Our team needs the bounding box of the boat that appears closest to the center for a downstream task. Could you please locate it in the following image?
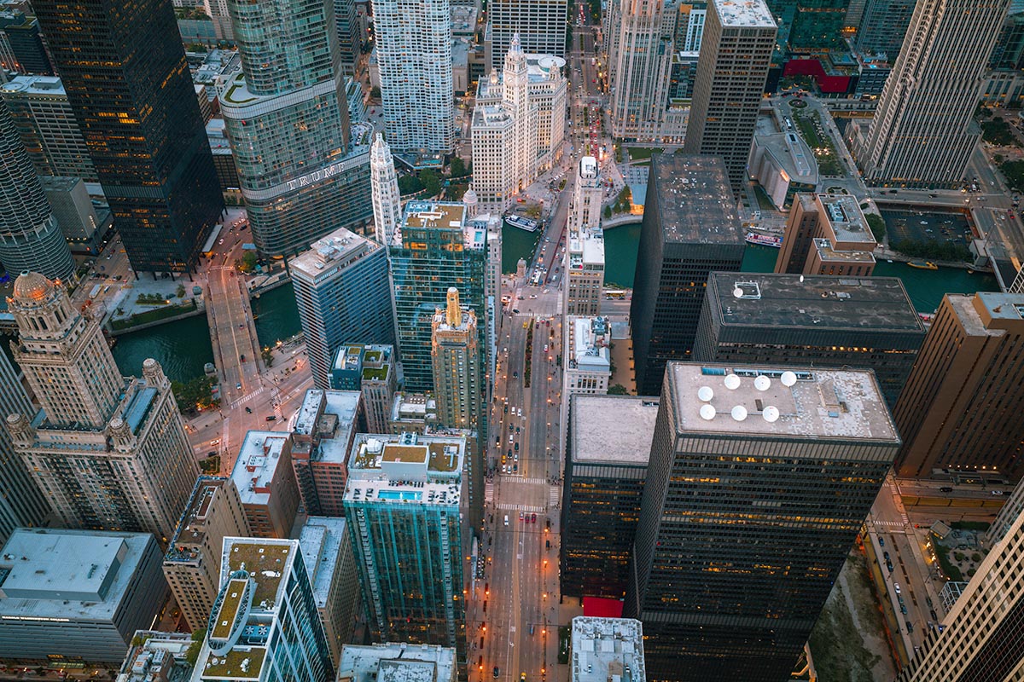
[504,216,540,233]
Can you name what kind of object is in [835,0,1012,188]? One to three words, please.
building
